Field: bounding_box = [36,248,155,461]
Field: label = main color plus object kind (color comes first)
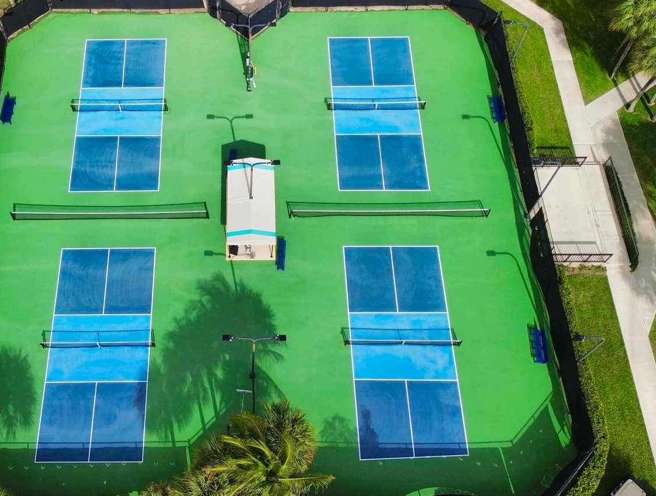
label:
blue sports court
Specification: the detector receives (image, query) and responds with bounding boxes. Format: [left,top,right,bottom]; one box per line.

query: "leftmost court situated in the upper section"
[69,38,167,191]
